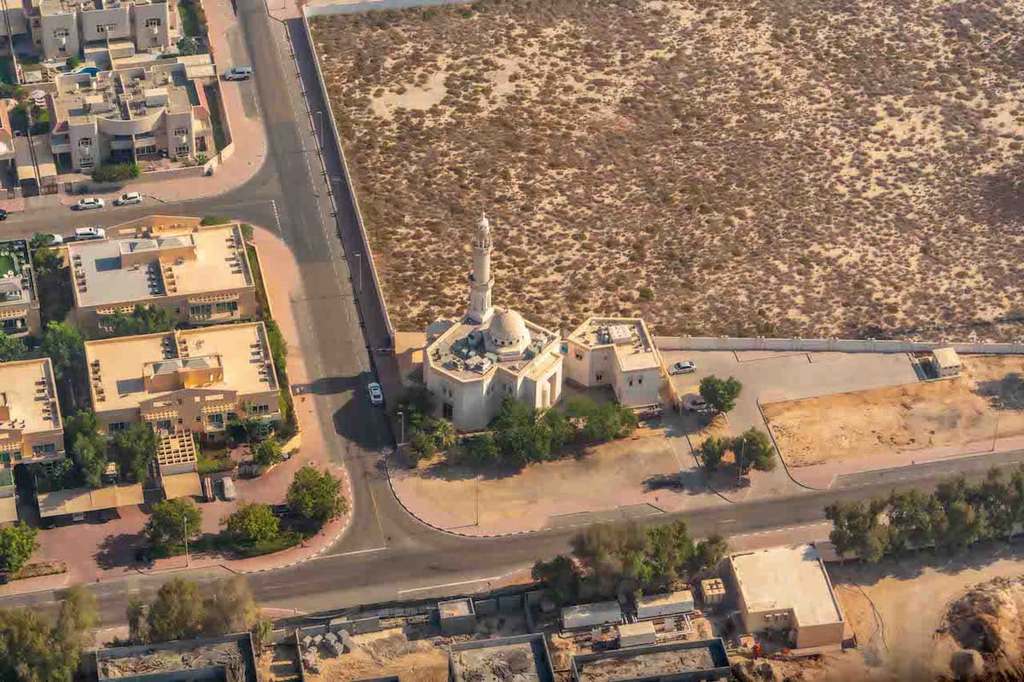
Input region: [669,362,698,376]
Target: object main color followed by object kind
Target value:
gray car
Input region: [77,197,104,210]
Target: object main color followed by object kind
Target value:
white vehicle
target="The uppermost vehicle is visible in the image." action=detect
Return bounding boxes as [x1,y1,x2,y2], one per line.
[225,66,254,81]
